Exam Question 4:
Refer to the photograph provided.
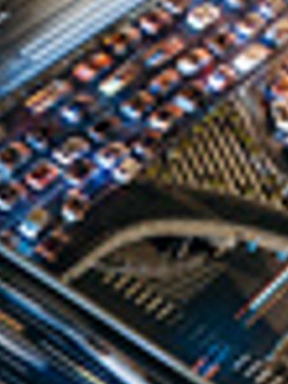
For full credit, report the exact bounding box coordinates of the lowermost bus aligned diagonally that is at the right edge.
[222,250,288,332]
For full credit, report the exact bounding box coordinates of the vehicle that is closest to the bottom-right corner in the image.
[192,347,227,376]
